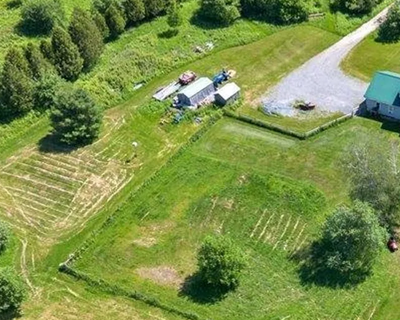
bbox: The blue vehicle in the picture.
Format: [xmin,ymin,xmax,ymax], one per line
[215,71,234,84]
